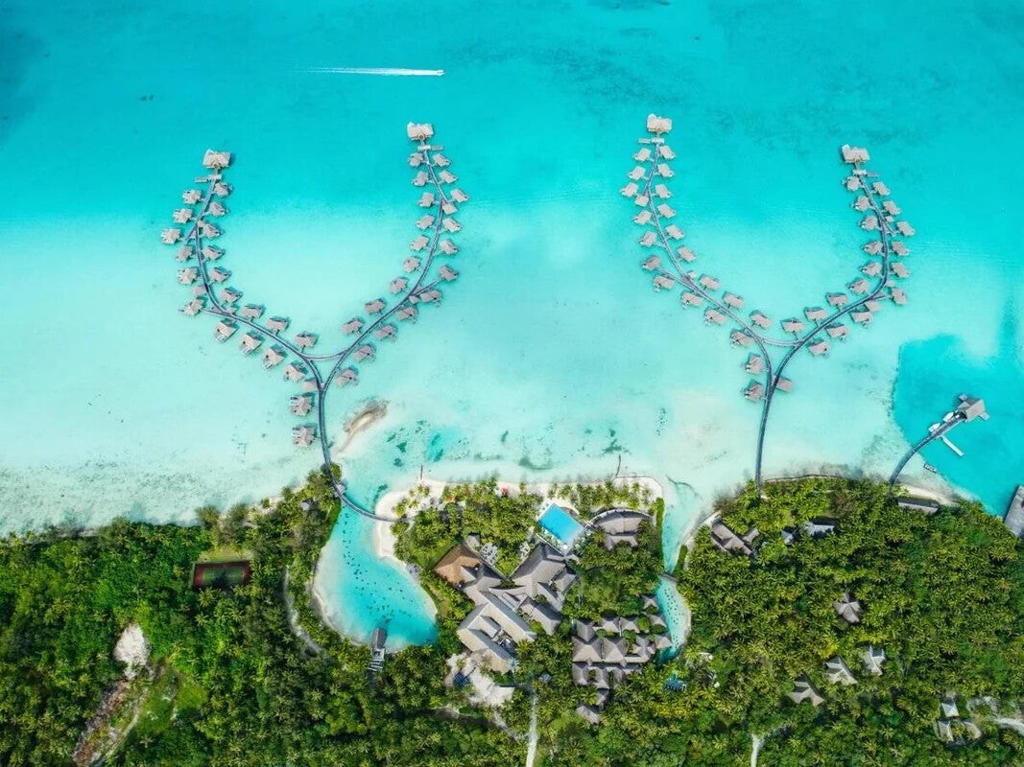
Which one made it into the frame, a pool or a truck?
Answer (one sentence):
The image shows a pool.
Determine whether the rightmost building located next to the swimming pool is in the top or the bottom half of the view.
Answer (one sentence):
It is in the bottom half that the rightmost building located next to the swimming pool appears.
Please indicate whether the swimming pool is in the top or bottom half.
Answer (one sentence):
The bottom half of the photo is where the swimming pool is.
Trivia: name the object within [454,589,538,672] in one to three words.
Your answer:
building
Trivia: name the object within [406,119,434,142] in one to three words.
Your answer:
house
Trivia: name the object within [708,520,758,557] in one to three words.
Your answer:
house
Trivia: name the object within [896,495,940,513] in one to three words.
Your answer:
shed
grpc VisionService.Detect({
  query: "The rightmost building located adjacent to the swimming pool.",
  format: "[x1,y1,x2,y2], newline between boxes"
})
[586,509,655,550]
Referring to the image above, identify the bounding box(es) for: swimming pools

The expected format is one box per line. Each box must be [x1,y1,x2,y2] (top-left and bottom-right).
[534,499,591,553]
